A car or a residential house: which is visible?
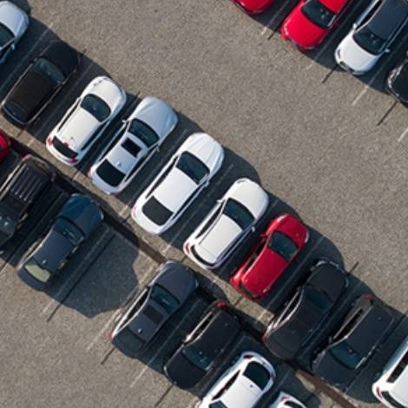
car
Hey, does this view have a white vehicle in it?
Yes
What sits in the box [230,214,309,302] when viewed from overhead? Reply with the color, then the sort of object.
red car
